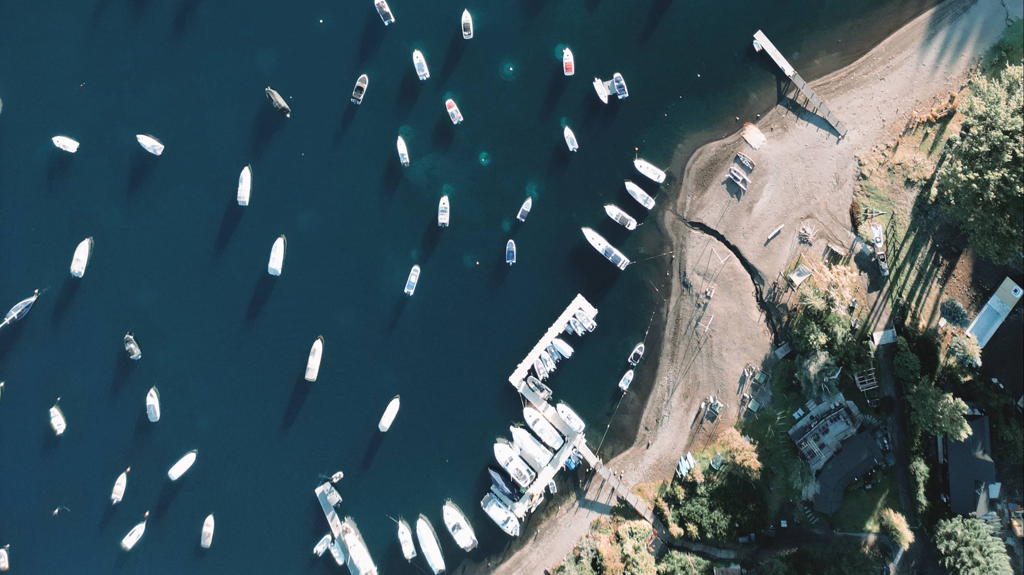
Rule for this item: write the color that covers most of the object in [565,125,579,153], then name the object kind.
white boat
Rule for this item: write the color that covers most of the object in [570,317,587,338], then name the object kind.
white boat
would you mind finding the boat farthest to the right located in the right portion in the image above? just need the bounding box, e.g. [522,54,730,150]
[873,221,886,248]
